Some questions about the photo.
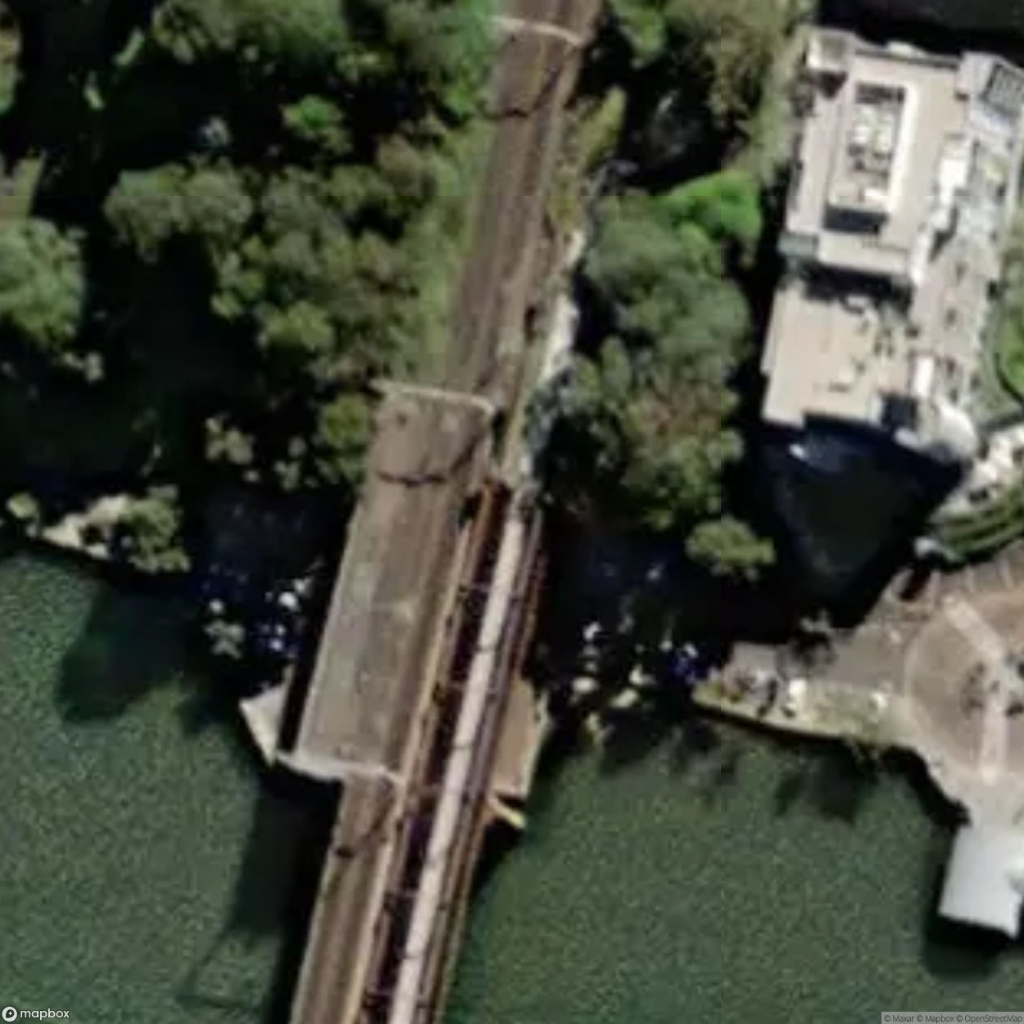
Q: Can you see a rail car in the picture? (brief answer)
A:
No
